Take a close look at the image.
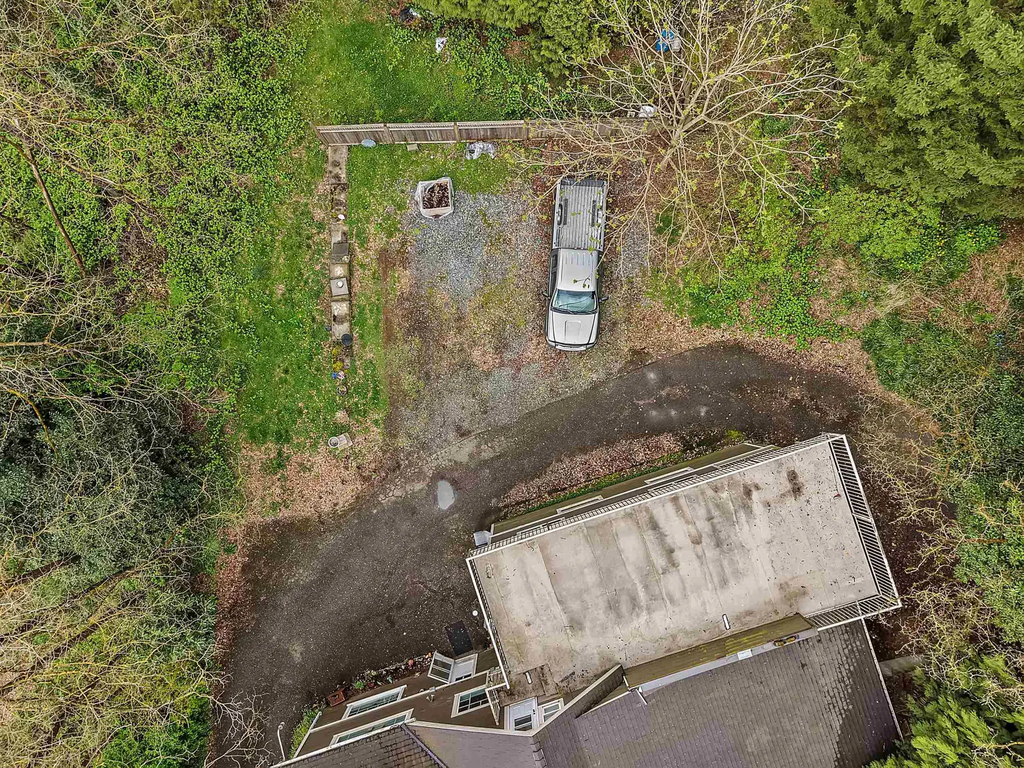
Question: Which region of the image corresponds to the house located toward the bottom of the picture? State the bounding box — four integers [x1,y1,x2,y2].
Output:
[258,432,915,768]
